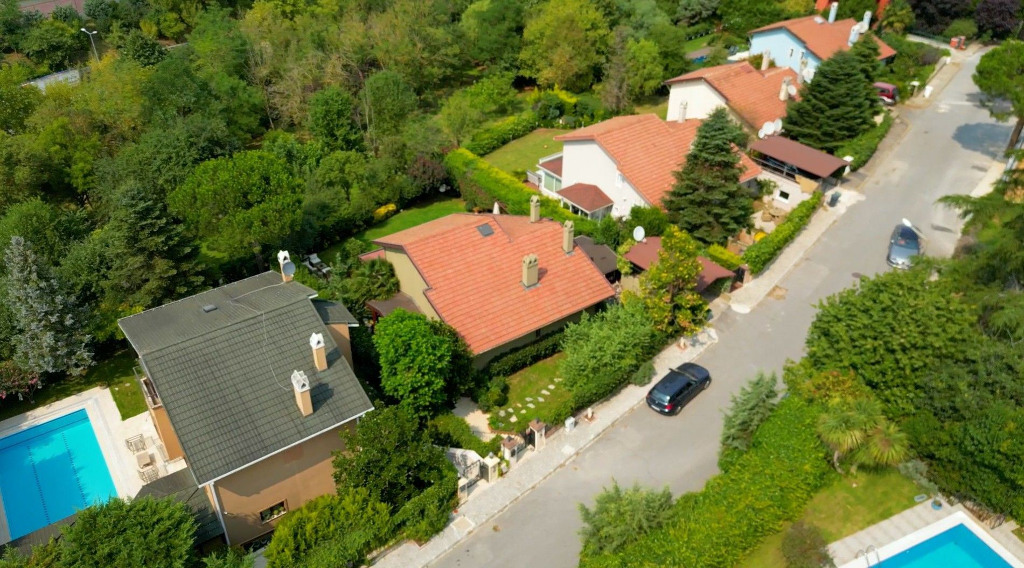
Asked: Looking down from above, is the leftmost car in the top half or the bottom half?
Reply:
bottom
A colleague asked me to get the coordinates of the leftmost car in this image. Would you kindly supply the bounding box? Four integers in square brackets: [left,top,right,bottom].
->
[642,360,713,415]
